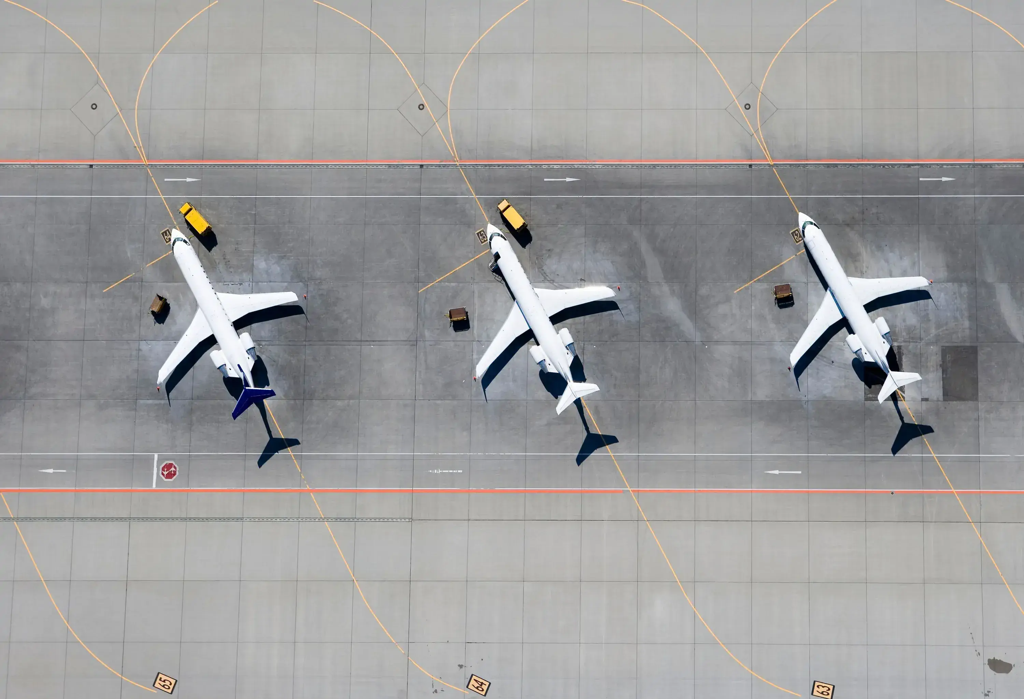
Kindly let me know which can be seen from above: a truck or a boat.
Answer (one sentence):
I can see a truck in this picture.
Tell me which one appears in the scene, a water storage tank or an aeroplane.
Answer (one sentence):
The one in the frame is an aeroplane.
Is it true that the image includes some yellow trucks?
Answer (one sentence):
Yes, the picture does show a yellow truck.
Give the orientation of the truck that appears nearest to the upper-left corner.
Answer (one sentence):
The truck that appears nearest to the upper-left corner is oriented on a diagonal.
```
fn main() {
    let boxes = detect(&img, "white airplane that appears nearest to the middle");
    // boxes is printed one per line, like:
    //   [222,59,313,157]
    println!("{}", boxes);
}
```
[475,224,617,415]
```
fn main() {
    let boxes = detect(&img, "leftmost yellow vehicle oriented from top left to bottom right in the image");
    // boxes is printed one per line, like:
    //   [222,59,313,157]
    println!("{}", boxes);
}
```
[178,200,213,236]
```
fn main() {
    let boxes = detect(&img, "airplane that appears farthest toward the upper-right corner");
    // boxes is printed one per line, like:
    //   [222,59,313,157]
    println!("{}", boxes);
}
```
[790,212,932,404]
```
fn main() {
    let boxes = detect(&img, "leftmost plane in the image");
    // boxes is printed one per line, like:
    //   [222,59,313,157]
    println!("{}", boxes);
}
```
[157,229,299,420]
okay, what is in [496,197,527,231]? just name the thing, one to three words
truck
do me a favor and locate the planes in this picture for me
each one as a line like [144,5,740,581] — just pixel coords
[157,229,299,420]
[790,212,932,404]
[475,224,617,415]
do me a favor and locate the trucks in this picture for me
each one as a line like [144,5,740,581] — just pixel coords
[496,197,527,231]
[178,200,213,236]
